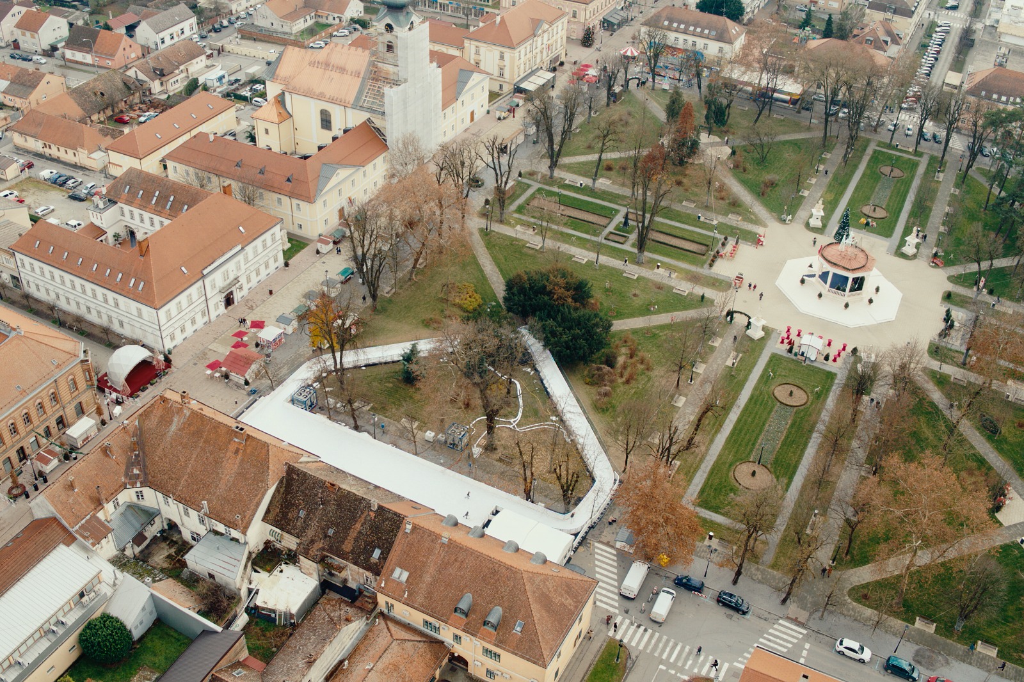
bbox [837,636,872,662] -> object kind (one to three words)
car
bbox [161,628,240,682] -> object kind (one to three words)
shed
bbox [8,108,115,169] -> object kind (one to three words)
house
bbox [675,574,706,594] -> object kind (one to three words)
car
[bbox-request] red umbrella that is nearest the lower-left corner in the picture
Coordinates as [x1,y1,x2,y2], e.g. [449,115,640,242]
[205,359,224,373]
